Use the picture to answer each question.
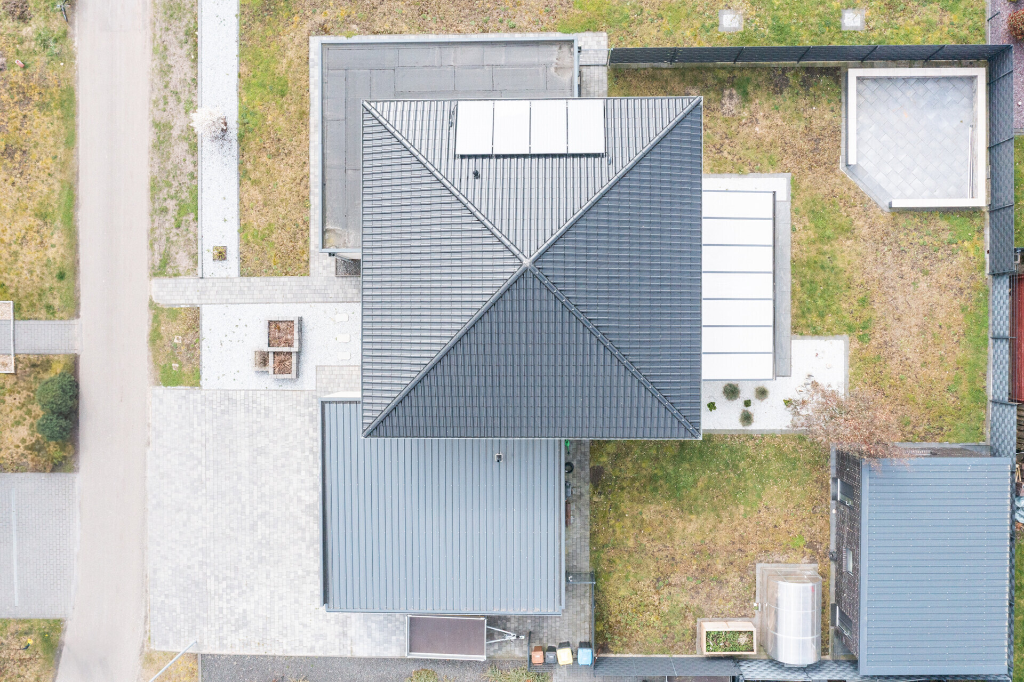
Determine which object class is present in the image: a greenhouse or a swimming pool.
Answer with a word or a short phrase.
greenhouse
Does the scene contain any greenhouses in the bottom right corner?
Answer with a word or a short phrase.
Yes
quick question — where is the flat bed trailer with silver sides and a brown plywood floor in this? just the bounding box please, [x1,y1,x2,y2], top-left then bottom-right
[405,613,525,662]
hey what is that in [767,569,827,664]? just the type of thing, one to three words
greenhouse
